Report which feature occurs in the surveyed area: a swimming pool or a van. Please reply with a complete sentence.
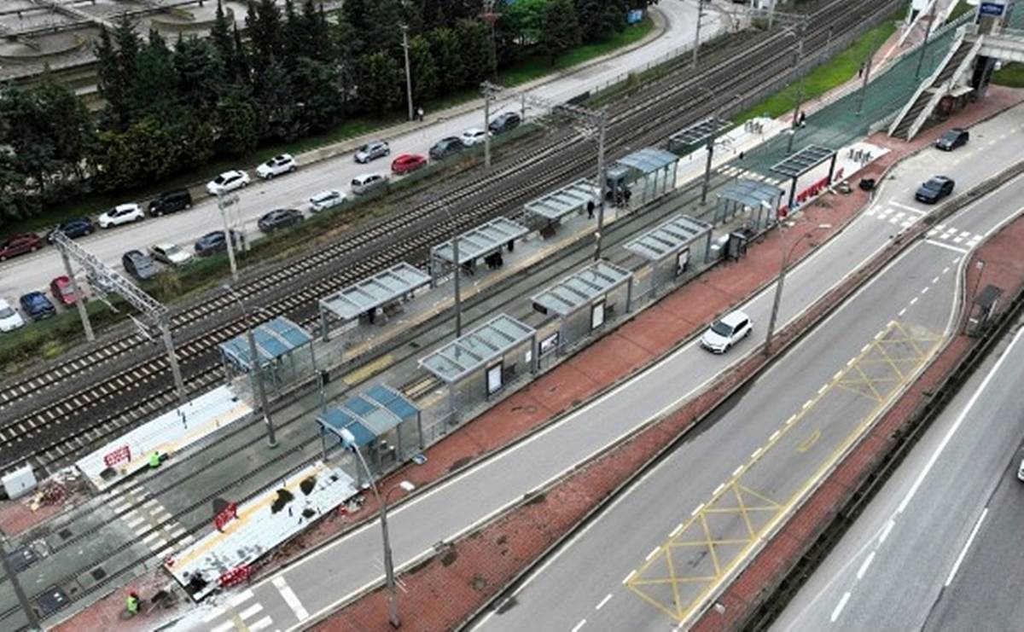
It is a van that can be seen here.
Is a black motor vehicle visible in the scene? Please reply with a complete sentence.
Yes, a black motor vehicle appears in the view.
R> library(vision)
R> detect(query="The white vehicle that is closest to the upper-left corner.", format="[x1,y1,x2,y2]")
[98,199,148,225]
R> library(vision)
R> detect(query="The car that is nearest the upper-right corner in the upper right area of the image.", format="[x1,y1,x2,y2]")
[935,123,971,148]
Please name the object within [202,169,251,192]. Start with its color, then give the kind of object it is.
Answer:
white car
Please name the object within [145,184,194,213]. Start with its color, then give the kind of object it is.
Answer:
black van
